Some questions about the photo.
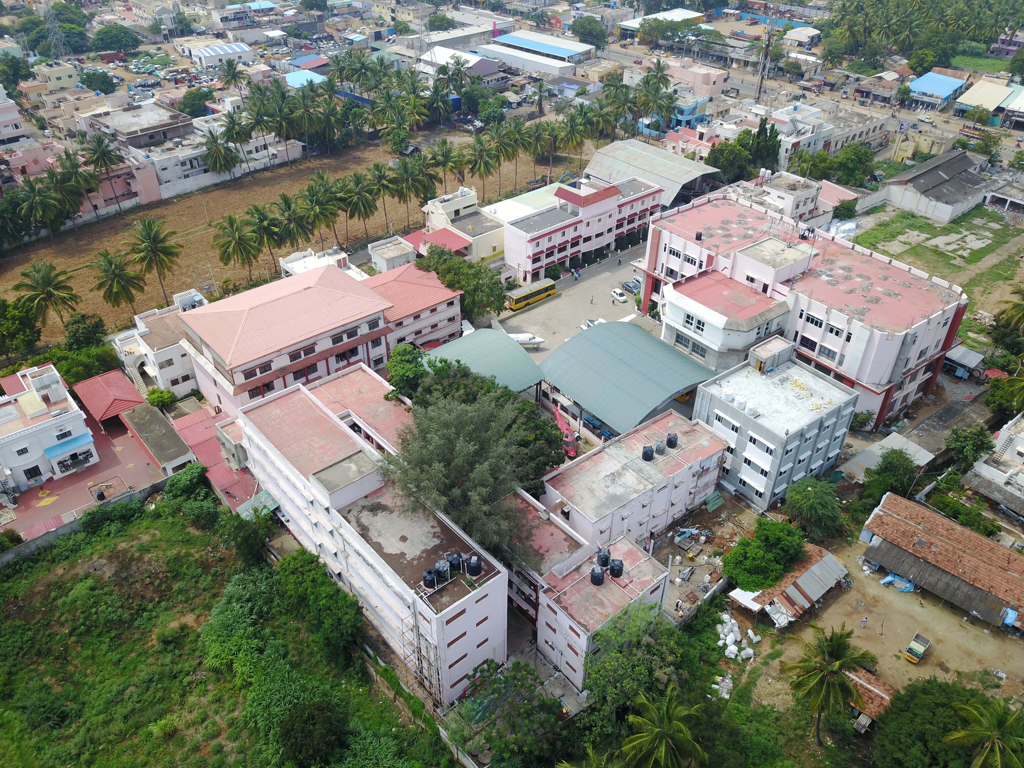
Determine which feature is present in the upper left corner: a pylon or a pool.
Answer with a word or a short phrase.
pylon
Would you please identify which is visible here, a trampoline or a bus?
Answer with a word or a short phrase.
bus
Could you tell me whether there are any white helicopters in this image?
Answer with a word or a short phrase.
No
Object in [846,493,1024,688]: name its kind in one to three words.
building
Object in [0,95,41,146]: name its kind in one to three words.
house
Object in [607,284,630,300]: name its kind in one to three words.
car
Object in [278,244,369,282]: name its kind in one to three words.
house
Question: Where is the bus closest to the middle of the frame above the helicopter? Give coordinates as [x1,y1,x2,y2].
[506,277,562,314]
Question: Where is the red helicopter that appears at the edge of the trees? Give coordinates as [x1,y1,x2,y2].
[548,385,577,450]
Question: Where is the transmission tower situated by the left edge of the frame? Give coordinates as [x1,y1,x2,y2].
[39,0,77,61]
